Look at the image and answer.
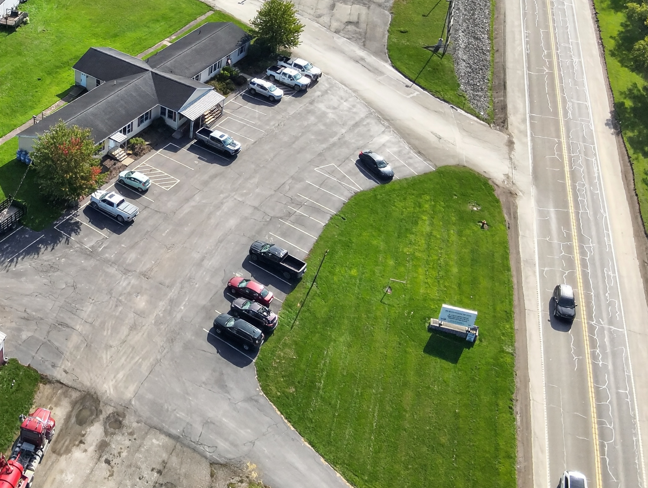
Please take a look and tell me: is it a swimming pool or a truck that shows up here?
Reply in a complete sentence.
There is a truck in the scene.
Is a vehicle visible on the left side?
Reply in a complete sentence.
Yes, a vehicle is visible on the left side.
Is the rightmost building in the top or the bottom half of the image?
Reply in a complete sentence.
You can find the rightmost building in the top half.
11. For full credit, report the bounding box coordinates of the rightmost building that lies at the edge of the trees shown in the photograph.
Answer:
[16,21,252,156]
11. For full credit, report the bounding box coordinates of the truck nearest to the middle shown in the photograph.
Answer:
[247,246,310,283]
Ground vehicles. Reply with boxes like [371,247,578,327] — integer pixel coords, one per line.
[87,193,142,228]
[0,197,31,236]
[246,75,284,102]
[224,280,279,309]
[13,402,66,488]
[247,246,310,283]
[192,125,244,158]
[263,63,310,91]
[556,468,586,488]
[115,169,154,194]
[227,301,282,335]
[211,319,267,354]
[276,53,322,79]
[549,281,579,328]
[354,152,396,183]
